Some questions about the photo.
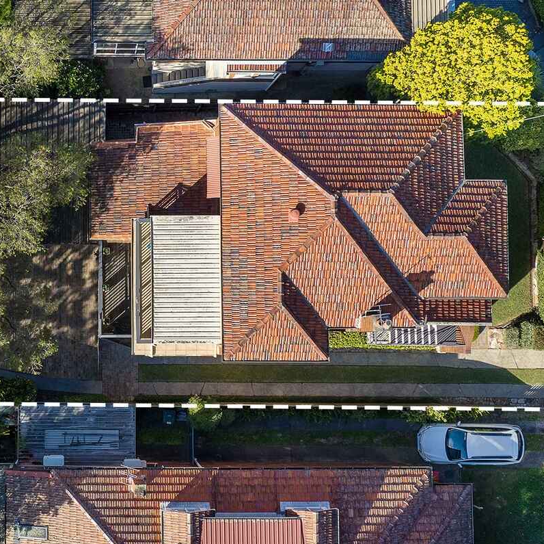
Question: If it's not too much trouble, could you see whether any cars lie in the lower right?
Yes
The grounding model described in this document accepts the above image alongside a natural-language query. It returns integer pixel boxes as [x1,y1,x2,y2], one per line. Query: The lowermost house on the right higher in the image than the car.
[217,102,512,363]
